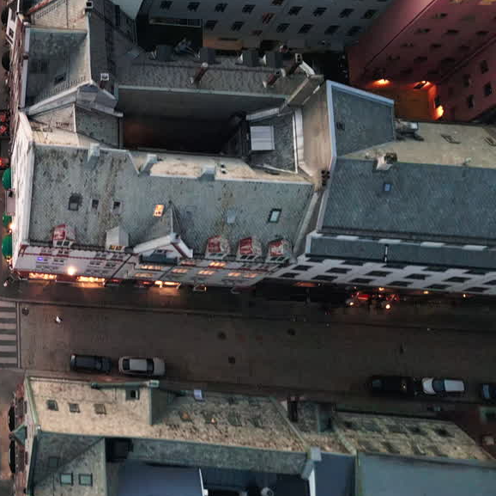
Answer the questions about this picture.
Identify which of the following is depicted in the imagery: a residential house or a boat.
residential house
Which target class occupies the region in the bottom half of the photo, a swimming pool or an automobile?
automobile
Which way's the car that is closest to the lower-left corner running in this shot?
from side to side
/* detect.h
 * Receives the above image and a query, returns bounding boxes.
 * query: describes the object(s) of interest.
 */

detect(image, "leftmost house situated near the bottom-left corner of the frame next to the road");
[2,378,169,496]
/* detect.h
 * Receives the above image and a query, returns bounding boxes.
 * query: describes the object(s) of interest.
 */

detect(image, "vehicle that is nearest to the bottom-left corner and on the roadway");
[68,353,112,374]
